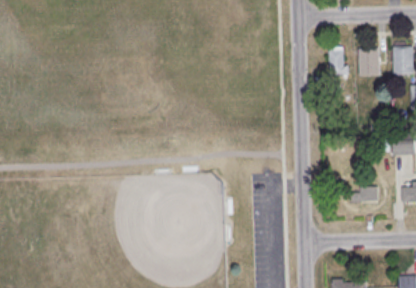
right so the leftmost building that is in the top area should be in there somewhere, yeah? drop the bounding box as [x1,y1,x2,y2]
[328,46,350,78]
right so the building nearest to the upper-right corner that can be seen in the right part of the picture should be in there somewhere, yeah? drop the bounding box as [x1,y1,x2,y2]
[393,47,414,76]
